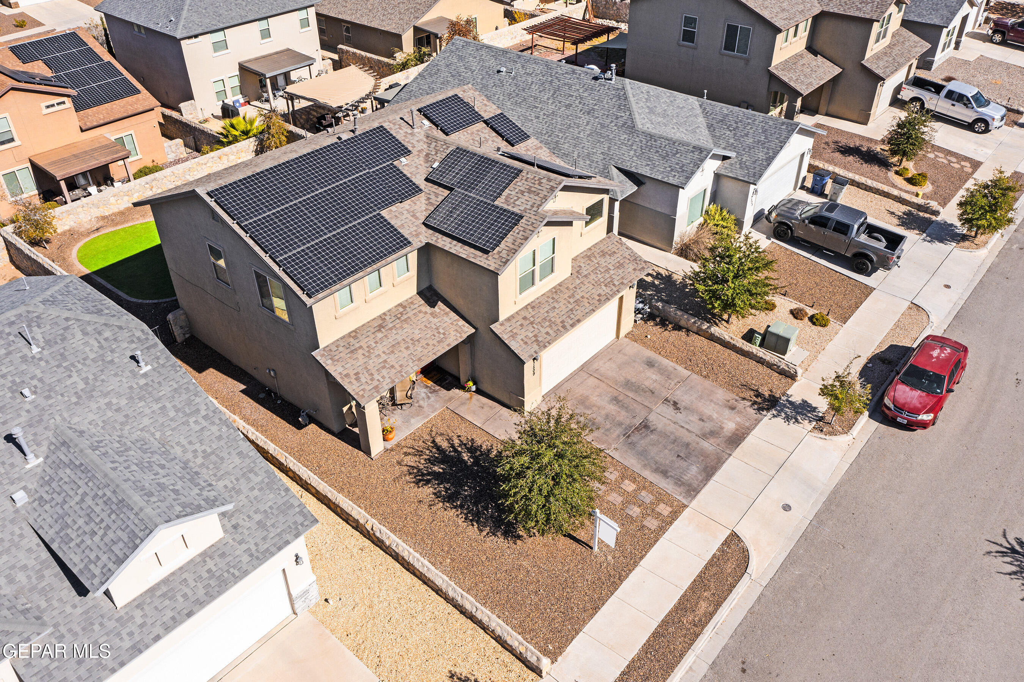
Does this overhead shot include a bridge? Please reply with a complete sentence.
No, there appears to be no bridge in this shot.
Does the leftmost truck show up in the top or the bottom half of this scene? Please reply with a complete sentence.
You can find the leftmost truck in the top half.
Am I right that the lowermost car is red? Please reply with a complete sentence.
Yes, the lowermost car is red.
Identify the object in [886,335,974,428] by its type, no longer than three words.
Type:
car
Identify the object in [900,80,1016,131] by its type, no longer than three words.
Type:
truck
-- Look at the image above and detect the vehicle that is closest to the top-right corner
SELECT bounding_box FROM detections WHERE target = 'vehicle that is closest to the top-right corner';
[983,16,1024,47]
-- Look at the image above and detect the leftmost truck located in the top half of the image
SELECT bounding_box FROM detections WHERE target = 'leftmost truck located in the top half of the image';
[760,196,902,272]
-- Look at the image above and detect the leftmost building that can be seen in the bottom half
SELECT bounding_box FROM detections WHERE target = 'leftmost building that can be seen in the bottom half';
[0,270,321,682]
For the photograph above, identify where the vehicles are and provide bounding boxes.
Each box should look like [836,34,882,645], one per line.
[760,196,902,272]
[983,16,1024,47]
[900,80,1016,131]
[886,335,974,428]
